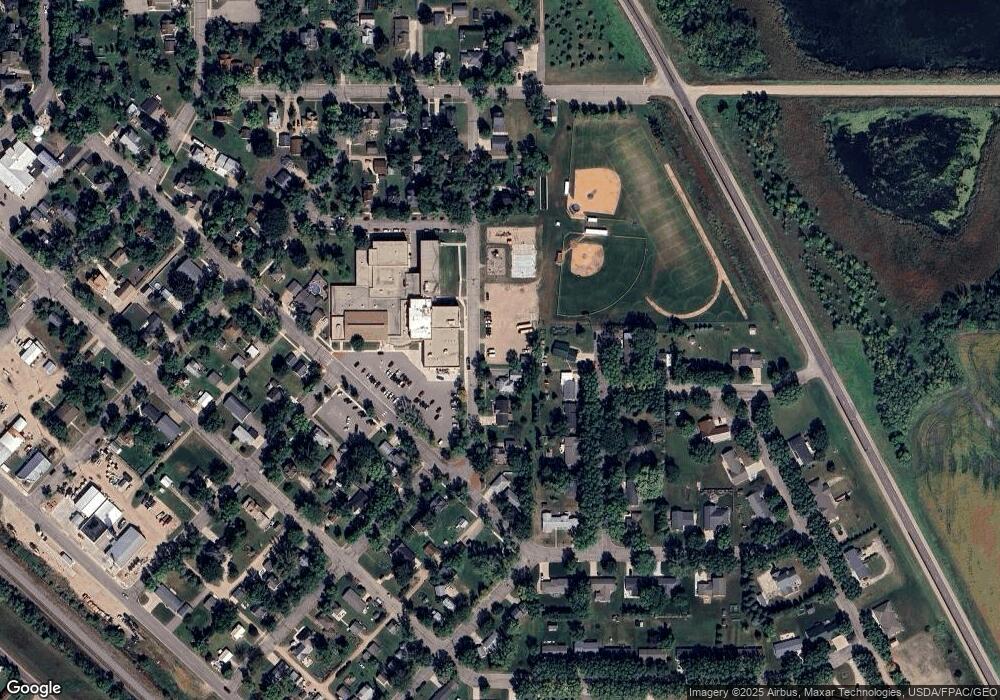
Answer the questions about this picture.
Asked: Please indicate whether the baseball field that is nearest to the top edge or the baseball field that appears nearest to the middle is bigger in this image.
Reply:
the baseball field that is nearest to the top edge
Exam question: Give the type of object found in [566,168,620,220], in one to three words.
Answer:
baseball field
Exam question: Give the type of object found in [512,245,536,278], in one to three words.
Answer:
sports court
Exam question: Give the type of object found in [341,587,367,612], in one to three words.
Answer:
house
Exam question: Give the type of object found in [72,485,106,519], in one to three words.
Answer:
shed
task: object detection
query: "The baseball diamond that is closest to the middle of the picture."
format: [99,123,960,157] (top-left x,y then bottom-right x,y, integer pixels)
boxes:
[570,240,604,276]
